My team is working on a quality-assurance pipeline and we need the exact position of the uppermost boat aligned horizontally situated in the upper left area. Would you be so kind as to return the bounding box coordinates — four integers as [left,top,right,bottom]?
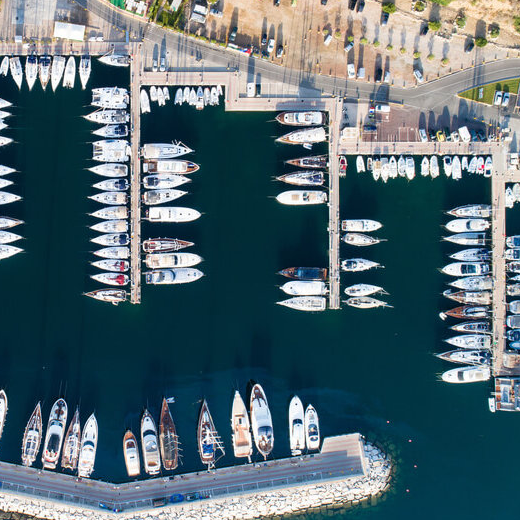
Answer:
[97,51,129,67]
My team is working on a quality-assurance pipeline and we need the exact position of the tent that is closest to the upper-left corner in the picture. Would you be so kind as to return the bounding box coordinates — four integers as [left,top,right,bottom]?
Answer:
[52,21,86,44]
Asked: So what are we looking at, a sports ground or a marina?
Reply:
marina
